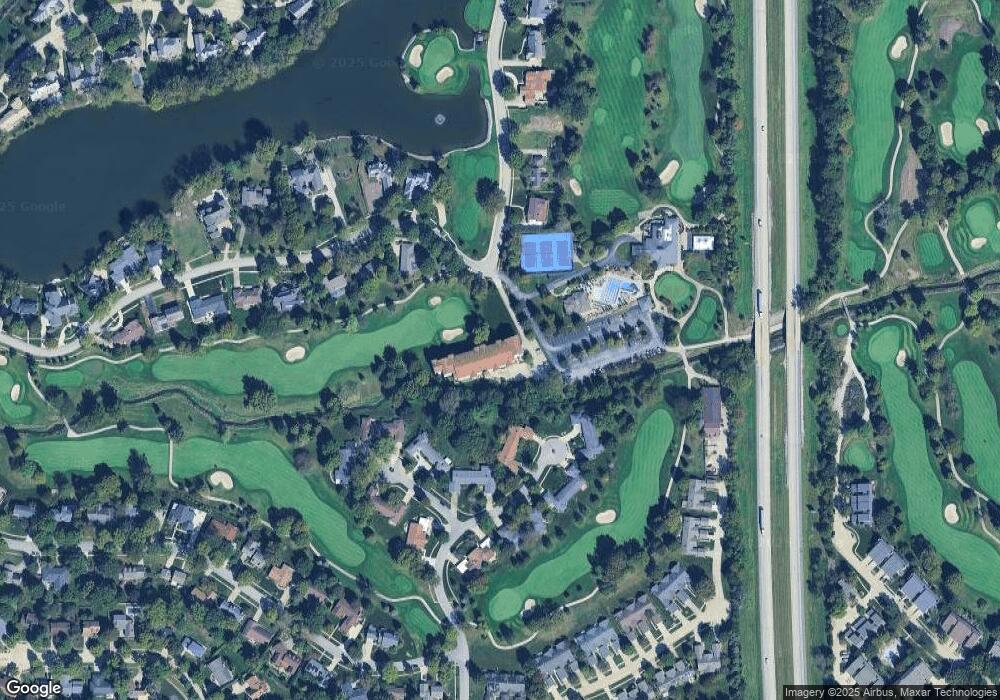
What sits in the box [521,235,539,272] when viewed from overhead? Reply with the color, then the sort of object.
blue tennis court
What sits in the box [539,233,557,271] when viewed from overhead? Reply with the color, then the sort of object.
blue tennis court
